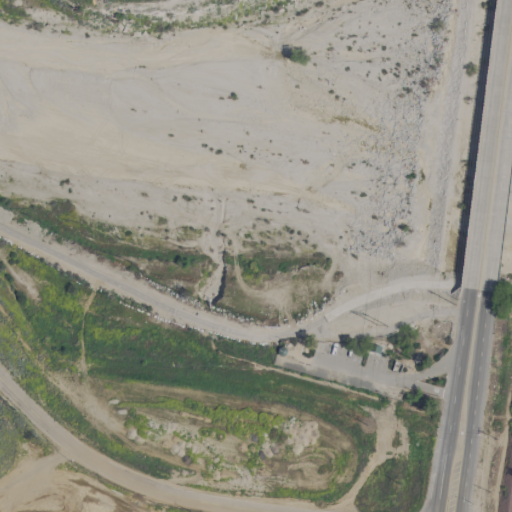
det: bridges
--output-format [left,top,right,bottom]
[462,0,512,292]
